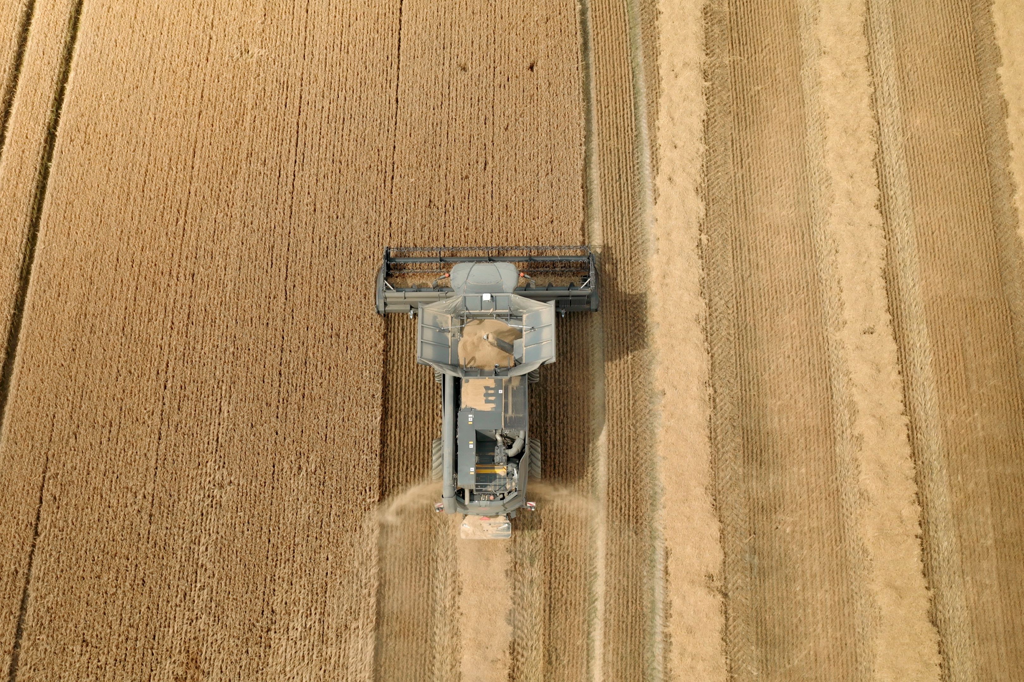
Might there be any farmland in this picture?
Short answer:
Yes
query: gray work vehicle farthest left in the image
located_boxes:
[376,239,599,540]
